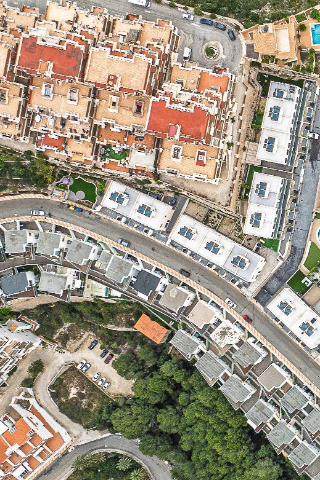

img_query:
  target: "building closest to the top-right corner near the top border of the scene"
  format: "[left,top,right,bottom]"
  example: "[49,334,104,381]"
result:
[252,23,302,61]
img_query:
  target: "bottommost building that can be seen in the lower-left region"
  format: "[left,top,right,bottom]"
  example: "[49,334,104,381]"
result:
[0,400,75,480]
